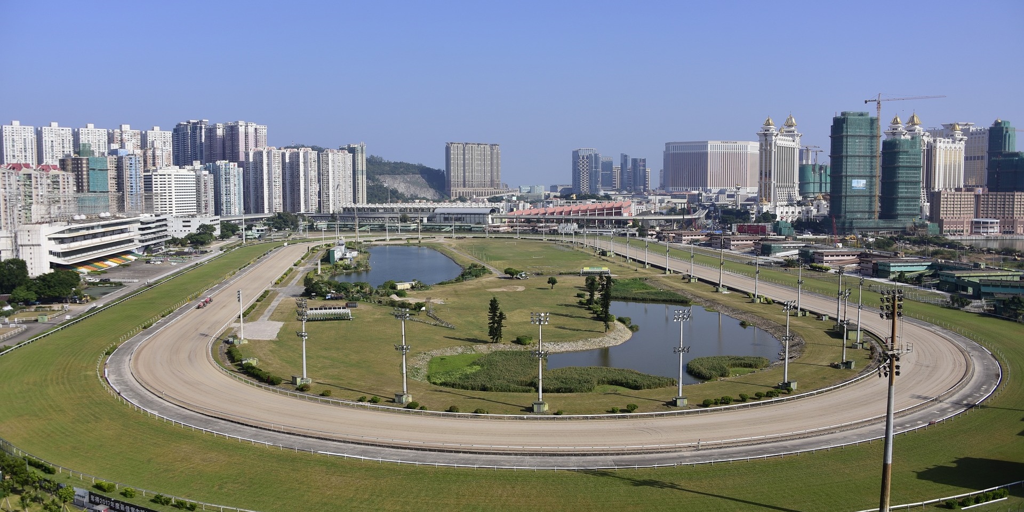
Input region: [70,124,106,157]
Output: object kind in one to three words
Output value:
building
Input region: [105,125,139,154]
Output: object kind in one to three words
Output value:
building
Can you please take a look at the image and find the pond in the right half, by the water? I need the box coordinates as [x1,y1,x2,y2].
[540,281,783,388]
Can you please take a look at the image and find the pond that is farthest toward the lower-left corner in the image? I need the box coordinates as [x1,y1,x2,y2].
[329,245,463,289]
